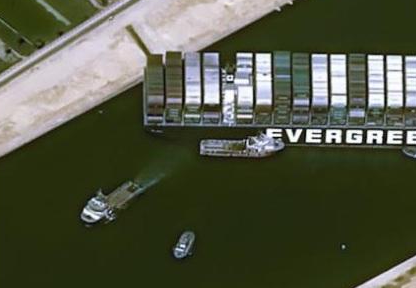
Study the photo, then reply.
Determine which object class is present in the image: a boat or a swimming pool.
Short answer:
boat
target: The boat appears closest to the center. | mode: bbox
[199,132,286,157]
